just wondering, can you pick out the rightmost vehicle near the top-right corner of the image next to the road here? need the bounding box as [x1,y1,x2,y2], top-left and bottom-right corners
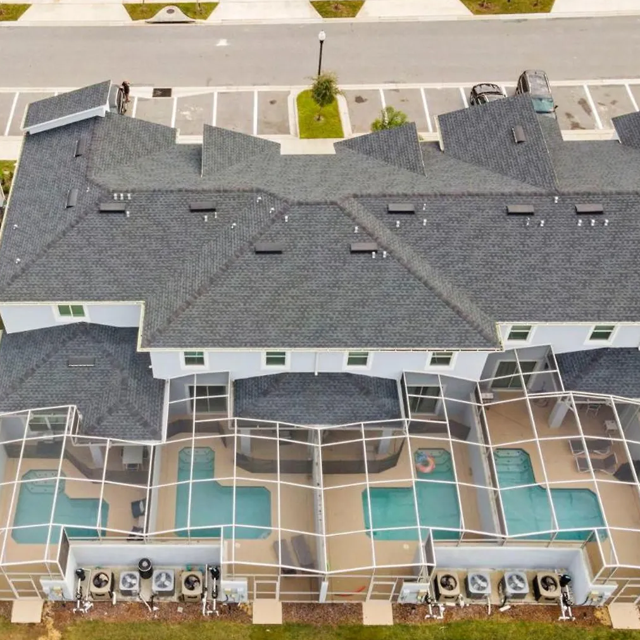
[519,69,565,128]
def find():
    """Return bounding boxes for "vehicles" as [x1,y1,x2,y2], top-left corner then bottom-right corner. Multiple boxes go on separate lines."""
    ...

[474,81,507,109]
[519,69,565,128]
[97,72,125,113]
